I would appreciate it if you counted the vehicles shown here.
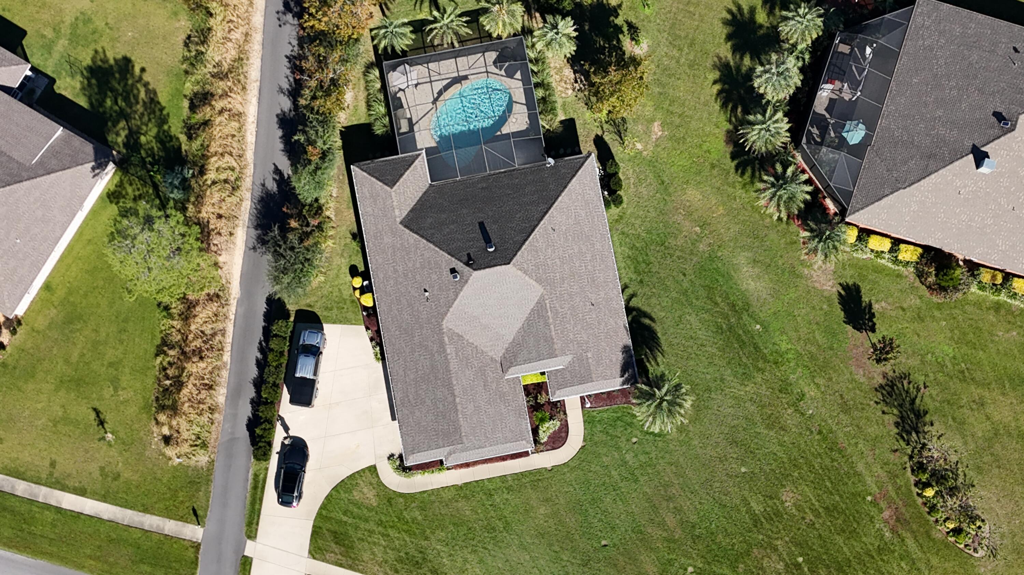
2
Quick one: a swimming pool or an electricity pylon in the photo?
swimming pool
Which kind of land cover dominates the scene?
grass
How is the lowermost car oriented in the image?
up and down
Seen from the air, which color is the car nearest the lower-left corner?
black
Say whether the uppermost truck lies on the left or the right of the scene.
left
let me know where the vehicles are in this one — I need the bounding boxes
[277,444,310,509]
[289,325,329,410]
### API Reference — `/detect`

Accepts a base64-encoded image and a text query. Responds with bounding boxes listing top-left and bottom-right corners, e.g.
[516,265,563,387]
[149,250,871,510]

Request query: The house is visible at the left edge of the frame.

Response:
[0,29,127,324]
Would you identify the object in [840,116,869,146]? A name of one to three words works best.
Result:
umbrella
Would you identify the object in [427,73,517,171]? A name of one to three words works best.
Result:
swimming pool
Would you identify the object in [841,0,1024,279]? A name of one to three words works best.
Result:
house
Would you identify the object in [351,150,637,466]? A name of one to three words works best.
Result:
house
